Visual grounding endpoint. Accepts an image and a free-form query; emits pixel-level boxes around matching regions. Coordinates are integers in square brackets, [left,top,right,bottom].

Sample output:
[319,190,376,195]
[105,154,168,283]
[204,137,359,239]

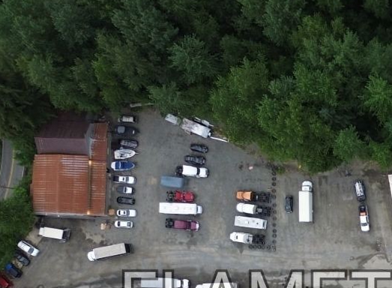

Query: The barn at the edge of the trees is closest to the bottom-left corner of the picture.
[33,153,111,217]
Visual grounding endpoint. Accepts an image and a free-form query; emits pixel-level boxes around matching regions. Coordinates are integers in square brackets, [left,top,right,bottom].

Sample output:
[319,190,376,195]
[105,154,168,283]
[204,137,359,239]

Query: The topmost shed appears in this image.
[34,109,114,162]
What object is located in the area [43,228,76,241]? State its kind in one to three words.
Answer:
vehicle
